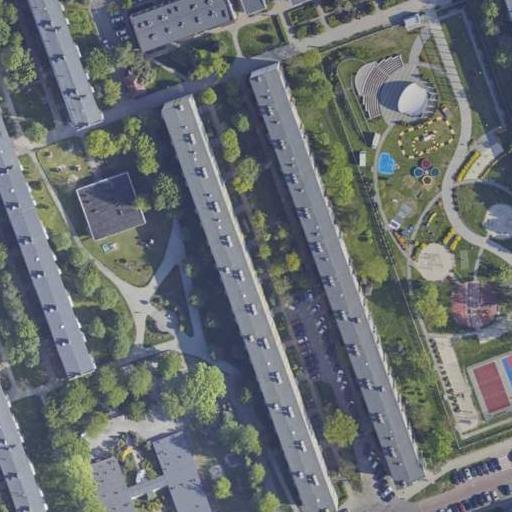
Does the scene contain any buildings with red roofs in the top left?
No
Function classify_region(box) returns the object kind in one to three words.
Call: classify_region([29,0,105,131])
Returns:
building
